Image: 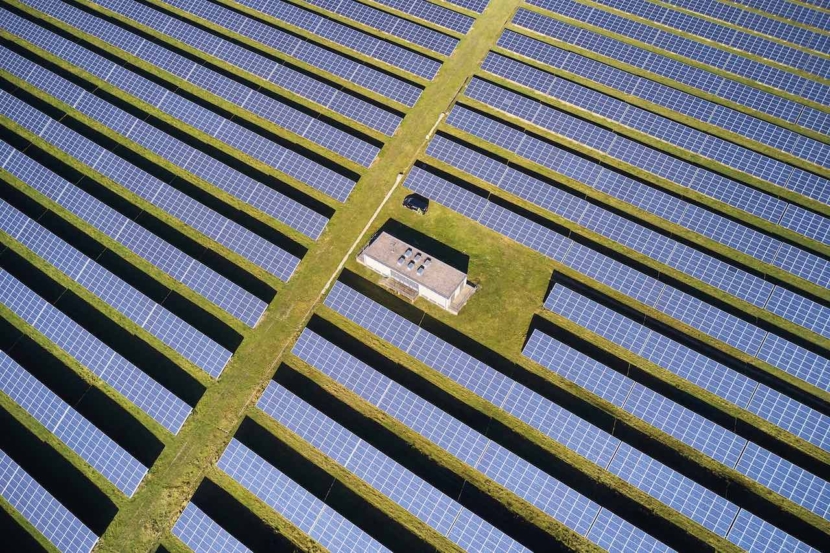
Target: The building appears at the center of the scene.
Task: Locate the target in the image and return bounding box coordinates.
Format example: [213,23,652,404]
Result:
[364,231,467,307]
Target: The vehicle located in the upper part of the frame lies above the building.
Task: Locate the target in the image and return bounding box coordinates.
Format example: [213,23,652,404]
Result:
[402,199,428,215]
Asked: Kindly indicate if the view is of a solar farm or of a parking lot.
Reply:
solar farm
